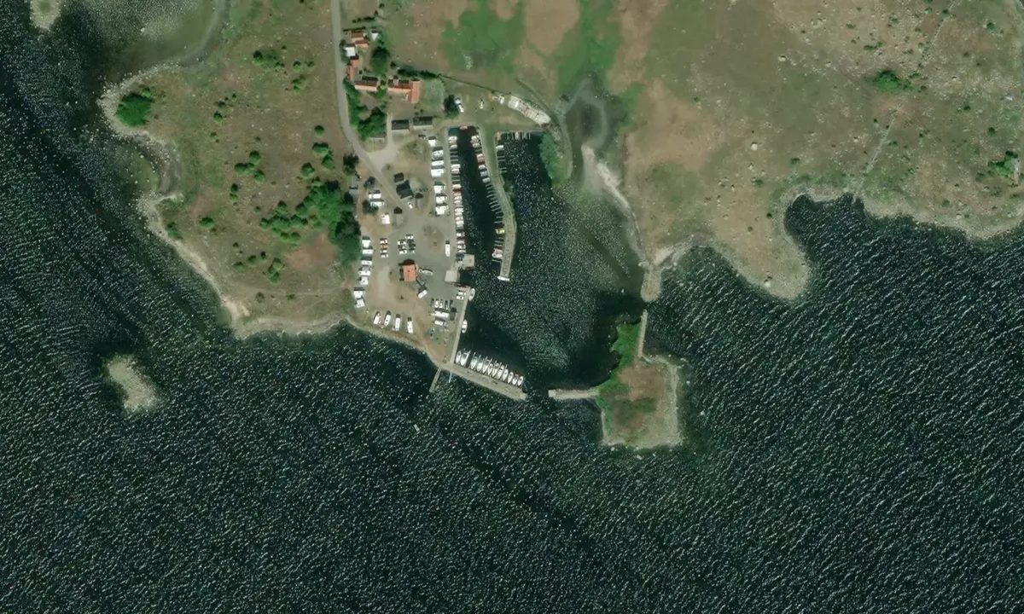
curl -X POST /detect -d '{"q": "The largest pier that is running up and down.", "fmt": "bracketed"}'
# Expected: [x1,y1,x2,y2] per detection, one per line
[478,125,520,278]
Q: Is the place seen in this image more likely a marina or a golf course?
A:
marina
